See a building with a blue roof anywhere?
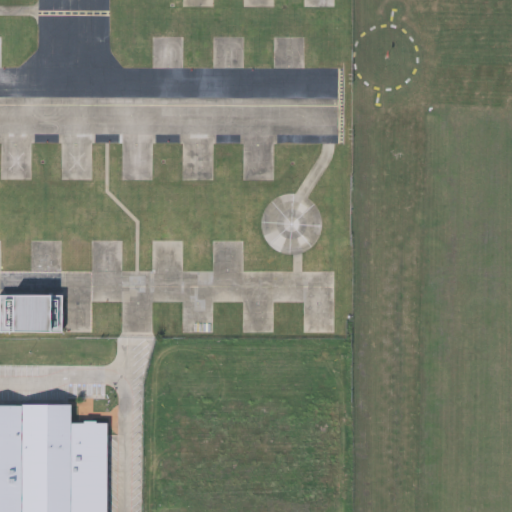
No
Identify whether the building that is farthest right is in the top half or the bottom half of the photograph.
bottom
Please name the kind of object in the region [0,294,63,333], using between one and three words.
building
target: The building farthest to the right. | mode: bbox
[72,421,108,512]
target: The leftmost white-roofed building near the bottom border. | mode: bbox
[0,405,72,512]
